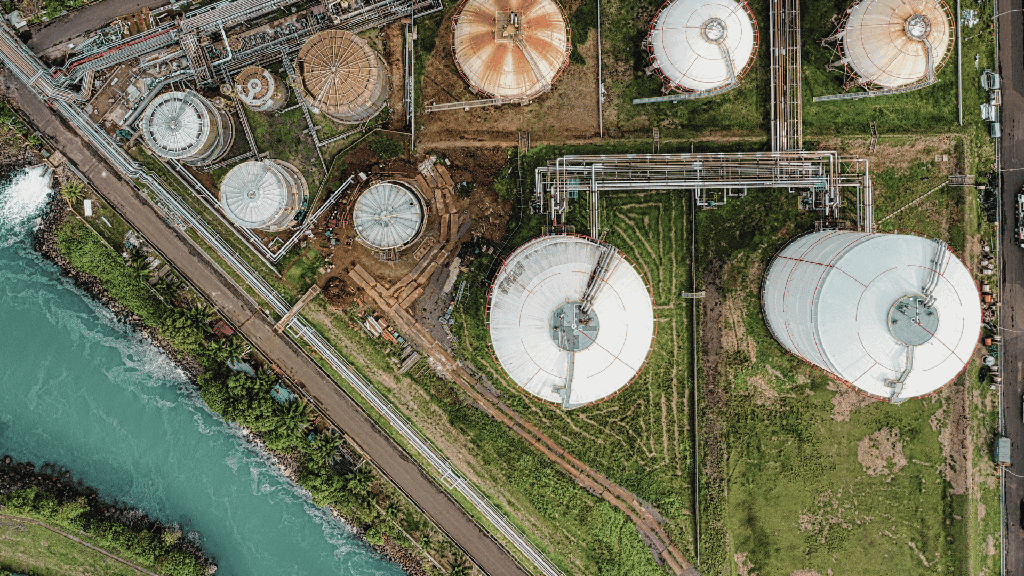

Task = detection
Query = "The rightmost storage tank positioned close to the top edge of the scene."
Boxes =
[814,0,958,103]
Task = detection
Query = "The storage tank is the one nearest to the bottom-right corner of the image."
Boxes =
[761,227,981,403]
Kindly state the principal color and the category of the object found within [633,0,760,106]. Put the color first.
white storage tank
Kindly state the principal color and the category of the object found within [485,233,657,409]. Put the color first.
white storage tank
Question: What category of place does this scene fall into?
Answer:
industrial area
